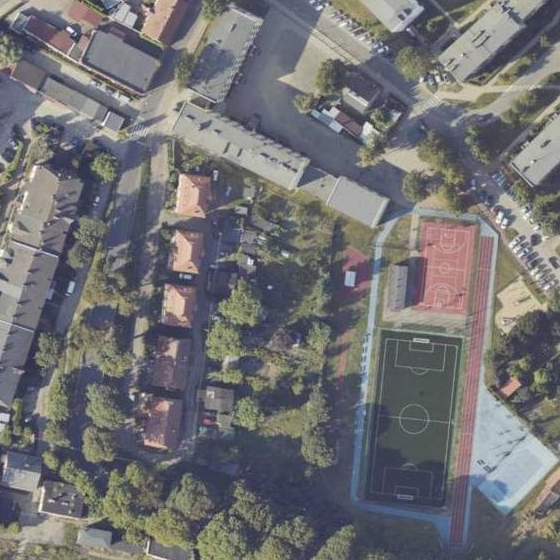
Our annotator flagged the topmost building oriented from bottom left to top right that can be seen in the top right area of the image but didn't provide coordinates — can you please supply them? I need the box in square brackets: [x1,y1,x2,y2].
[438,4,525,85]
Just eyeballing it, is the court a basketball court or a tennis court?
basketball court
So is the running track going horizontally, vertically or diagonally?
vertically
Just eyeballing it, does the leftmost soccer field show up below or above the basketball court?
below it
